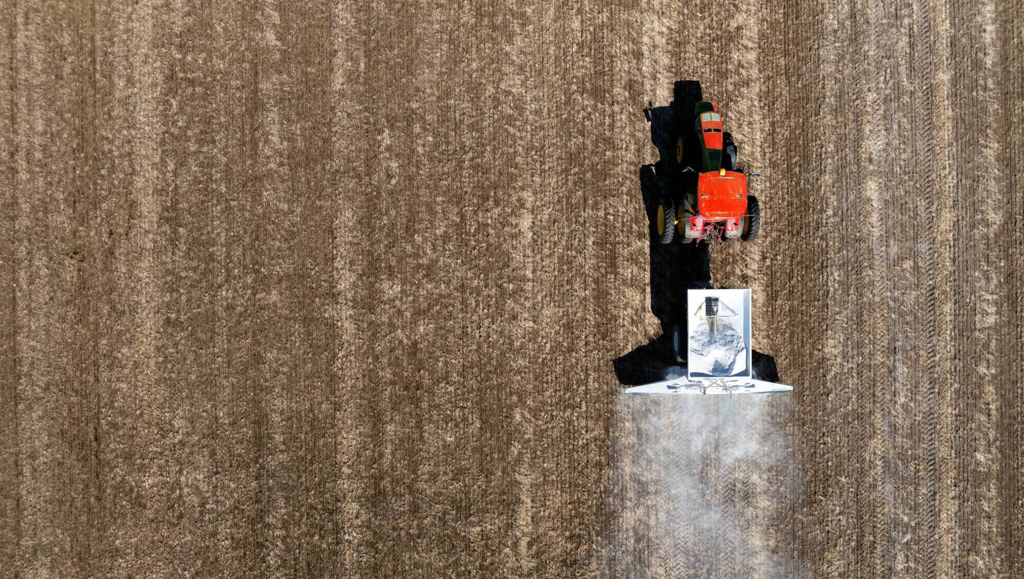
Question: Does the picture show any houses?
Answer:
No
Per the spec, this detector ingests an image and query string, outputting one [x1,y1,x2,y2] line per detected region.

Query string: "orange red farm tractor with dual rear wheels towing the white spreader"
[656,101,761,253]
